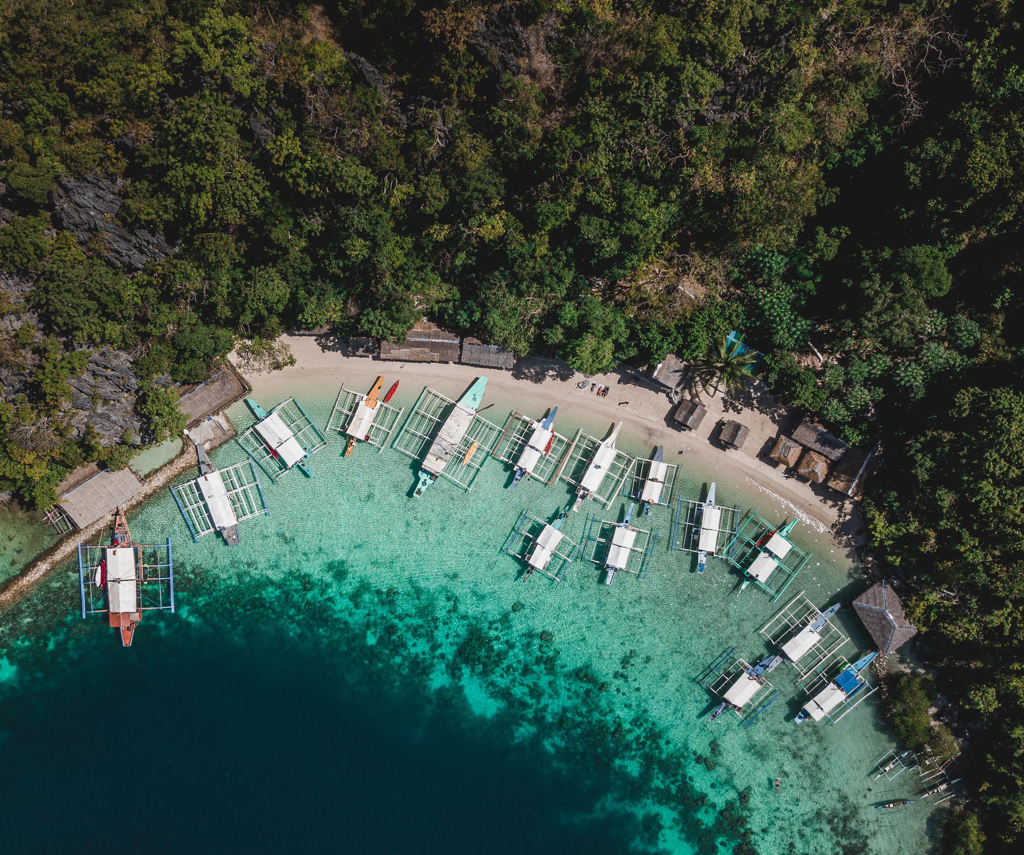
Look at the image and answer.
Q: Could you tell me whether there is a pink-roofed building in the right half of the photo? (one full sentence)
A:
No, no pink-roofed building appears in the right half of the photo.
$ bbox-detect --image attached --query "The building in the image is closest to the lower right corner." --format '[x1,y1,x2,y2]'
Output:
[839,579,918,655]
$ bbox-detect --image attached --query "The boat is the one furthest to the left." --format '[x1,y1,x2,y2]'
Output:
[42,507,72,539]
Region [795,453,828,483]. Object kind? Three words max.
shed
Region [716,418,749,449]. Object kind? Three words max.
house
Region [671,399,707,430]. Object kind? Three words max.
house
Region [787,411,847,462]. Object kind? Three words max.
shed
